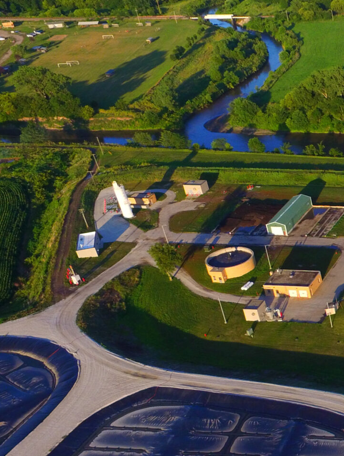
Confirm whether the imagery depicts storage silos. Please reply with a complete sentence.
Yes, a storage silo is visible in the scene.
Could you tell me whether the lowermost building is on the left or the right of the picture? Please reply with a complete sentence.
You can find the lowermost building on the right side of the picture.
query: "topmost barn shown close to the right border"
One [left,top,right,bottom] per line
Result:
[265,193,332,235]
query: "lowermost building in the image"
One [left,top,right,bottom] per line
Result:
[242,300,268,321]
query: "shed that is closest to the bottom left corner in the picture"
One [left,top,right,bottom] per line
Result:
[76,230,112,258]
